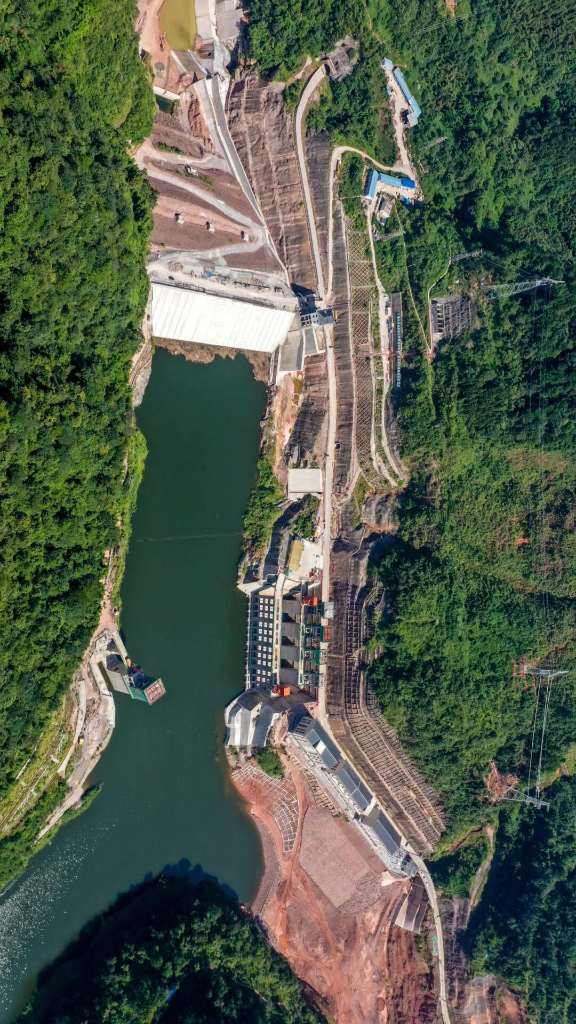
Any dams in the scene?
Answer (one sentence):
Yes, the picture does show a dam.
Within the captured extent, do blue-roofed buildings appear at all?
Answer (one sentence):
Yes, you can see a blue-roofed building in this photo.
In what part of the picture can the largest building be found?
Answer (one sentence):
The largest building appears toward the bottom of the photo.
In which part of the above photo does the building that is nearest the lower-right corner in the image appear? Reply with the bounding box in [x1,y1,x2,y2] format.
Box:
[290,715,401,859]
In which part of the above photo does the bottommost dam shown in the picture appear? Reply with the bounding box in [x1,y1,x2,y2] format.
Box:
[132,113,298,352]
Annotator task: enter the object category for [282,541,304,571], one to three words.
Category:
building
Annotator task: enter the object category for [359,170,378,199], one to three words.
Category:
building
